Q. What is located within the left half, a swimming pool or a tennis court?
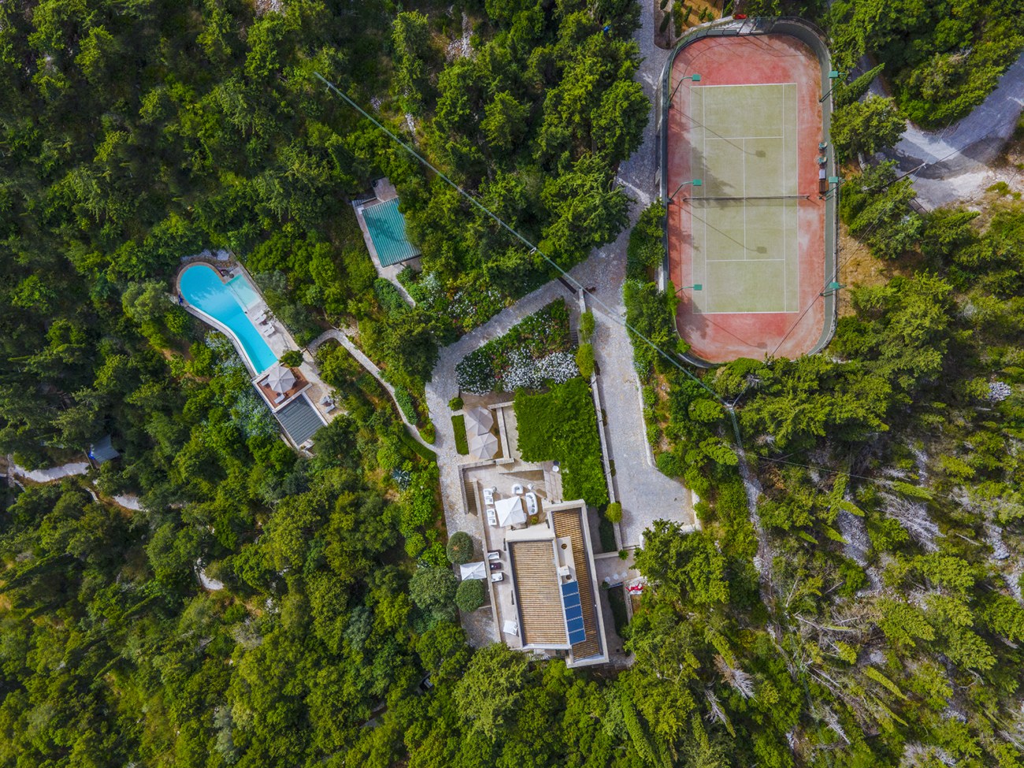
swimming pool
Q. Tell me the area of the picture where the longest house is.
bottom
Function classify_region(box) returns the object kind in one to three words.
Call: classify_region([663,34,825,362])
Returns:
tennis court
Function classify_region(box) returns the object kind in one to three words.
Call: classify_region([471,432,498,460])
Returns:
umbrella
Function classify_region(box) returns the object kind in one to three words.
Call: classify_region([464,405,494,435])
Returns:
umbrella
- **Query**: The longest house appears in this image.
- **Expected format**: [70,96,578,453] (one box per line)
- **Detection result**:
[504,498,609,668]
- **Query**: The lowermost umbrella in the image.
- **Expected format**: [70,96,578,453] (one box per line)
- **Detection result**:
[462,560,485,579]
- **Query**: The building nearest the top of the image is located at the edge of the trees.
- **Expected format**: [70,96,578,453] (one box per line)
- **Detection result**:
[362,197,425,270]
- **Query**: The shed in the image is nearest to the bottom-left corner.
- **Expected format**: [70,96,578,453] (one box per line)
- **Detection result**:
[94,434,131,463]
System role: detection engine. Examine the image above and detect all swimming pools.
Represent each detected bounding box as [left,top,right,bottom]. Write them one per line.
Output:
[176,261,282,379]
